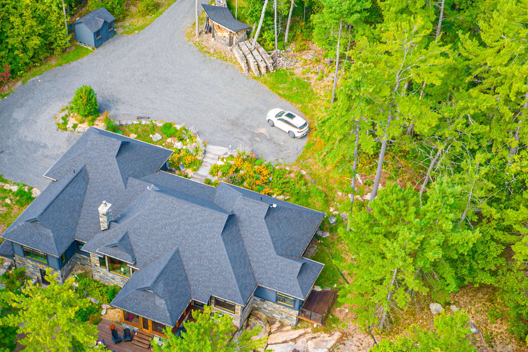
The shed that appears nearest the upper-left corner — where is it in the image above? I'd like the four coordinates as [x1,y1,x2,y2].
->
[71,4,115,47]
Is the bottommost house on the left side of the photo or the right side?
left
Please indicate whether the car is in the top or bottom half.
top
